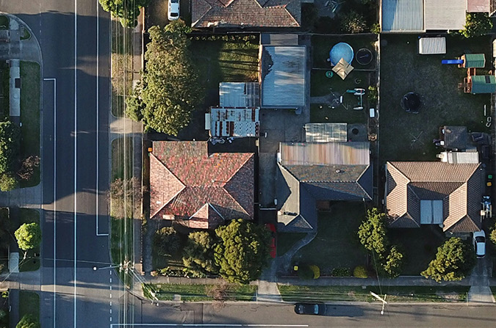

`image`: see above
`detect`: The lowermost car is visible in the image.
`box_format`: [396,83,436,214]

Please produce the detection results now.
[292,302,326,317]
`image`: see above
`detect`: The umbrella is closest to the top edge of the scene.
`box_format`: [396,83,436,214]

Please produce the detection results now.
[331,57,352,79]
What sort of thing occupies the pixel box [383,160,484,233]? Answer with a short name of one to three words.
house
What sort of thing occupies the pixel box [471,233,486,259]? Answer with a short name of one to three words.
car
